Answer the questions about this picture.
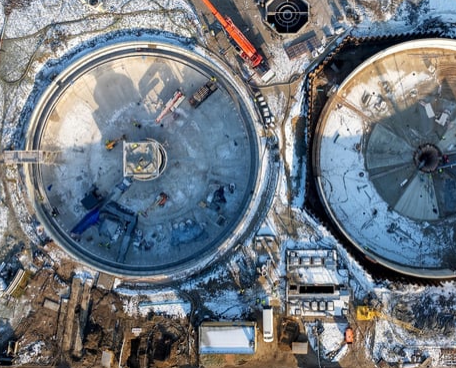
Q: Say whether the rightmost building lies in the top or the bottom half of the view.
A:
bottom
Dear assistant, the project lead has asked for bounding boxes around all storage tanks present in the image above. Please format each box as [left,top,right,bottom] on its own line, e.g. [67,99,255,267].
[311,39,456,280]
[26,41,265,279]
